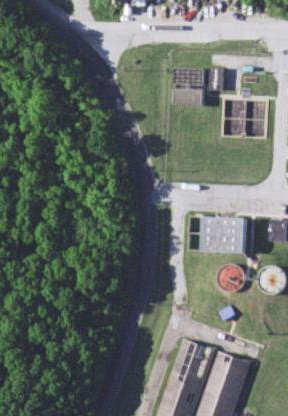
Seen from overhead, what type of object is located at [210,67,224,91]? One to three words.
building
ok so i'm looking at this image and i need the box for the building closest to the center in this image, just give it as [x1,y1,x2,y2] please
[200,217,245,254]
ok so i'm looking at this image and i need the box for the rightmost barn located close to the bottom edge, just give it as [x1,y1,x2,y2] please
[199,352,250,416]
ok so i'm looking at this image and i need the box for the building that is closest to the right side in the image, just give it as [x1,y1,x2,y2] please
[268,220,288,242]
